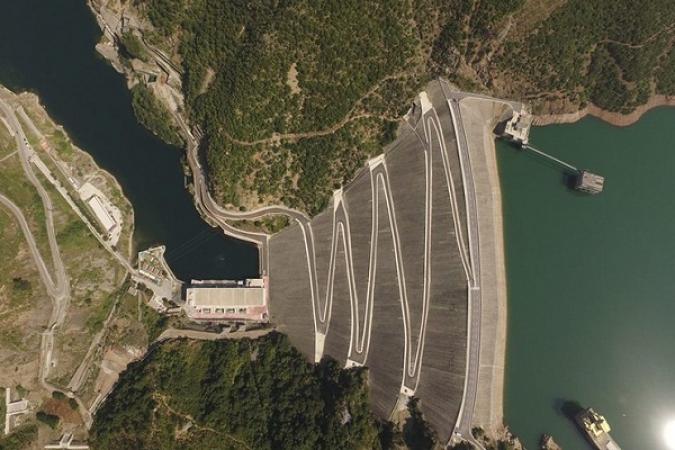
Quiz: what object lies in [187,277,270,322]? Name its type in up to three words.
building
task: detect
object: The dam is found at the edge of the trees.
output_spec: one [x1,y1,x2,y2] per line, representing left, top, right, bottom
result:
[268,78,514,445]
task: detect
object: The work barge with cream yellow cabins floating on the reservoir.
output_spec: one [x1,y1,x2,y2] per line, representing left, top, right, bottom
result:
[583,405,626,450]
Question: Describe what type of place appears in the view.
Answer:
port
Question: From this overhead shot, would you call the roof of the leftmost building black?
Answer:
No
